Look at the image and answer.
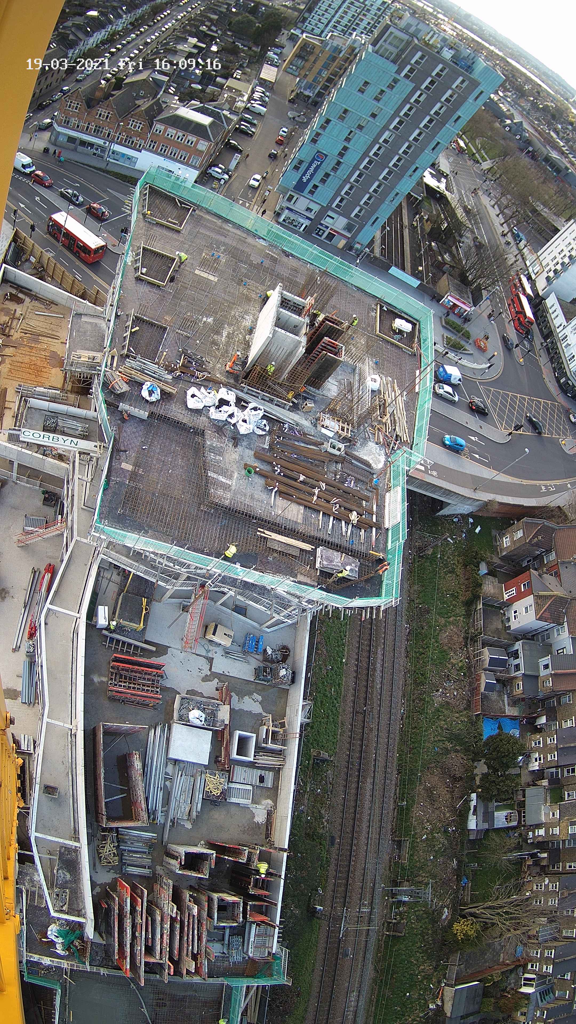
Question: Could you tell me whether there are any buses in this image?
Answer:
Yes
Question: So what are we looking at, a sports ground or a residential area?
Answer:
residential area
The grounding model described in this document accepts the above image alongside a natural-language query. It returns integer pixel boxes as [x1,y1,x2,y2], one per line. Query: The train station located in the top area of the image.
[370,168,474,299]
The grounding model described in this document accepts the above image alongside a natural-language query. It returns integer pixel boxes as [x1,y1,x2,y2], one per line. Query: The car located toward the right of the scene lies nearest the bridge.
[443,435,472,453]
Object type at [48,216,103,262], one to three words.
bus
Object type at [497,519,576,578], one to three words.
house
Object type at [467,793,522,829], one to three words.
shed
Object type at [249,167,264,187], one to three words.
car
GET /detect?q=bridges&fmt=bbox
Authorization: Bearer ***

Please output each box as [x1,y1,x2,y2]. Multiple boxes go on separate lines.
[392,463,494,515]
